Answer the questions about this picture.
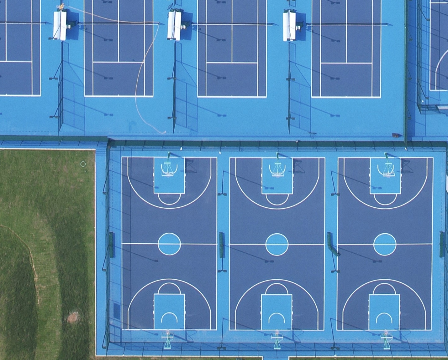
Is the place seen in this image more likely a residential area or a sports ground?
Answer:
sports ground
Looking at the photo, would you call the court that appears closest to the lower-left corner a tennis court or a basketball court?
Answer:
basketball court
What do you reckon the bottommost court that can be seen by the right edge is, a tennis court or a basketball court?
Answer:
basketball court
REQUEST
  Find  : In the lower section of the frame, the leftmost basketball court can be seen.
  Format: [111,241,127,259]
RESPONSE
[122,157,217,330]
